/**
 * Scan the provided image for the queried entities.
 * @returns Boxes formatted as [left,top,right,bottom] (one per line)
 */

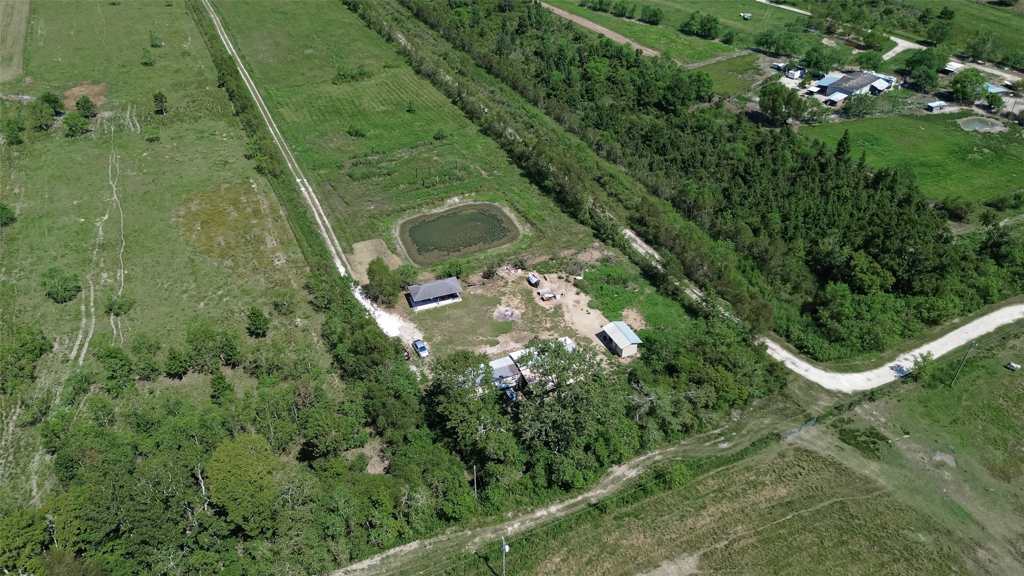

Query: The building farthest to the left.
[409,277,463,311]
